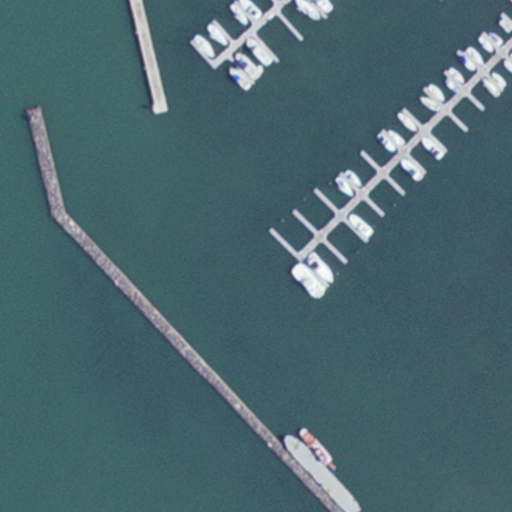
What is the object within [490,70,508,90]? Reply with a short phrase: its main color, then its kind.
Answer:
white boat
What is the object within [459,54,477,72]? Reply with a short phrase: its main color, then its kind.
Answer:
white boat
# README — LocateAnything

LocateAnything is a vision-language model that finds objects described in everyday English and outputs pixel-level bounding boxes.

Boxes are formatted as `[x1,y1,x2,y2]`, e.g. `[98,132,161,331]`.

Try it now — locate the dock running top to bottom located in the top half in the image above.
[130,0,167,115]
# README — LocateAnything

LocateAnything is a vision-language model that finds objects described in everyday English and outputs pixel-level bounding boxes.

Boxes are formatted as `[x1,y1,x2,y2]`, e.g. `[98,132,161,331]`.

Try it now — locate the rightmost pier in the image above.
[274,12,512,284]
